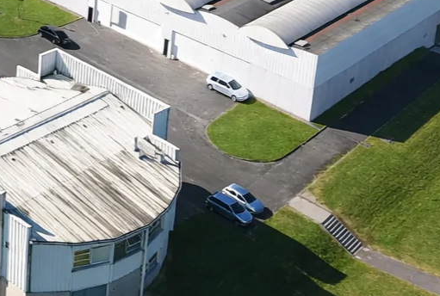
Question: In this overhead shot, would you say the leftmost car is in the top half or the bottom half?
top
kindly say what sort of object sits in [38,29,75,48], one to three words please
car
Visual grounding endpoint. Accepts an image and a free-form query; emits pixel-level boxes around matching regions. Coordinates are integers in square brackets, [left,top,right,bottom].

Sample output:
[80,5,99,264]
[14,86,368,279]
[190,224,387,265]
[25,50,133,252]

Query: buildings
[0,45,184,296]
[52,0,440,119]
